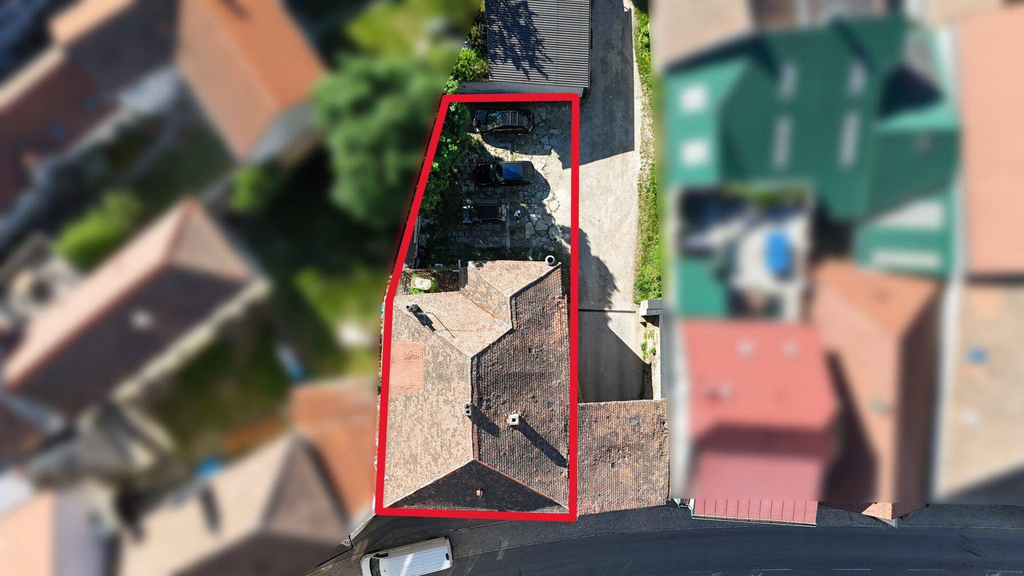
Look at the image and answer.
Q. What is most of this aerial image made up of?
buildings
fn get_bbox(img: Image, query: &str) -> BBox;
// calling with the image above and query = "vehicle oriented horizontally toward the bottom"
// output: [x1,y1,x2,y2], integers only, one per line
[368,538,454,576]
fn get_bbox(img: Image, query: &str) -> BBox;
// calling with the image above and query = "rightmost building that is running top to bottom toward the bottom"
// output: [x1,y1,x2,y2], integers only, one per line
[931,283,1024,499]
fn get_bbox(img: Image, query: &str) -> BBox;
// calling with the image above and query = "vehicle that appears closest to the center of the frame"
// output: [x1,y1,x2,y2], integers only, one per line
[461,200,509,226]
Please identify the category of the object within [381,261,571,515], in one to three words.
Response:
house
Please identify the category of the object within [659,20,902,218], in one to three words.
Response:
building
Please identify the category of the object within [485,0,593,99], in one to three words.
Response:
shed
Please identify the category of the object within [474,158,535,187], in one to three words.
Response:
car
